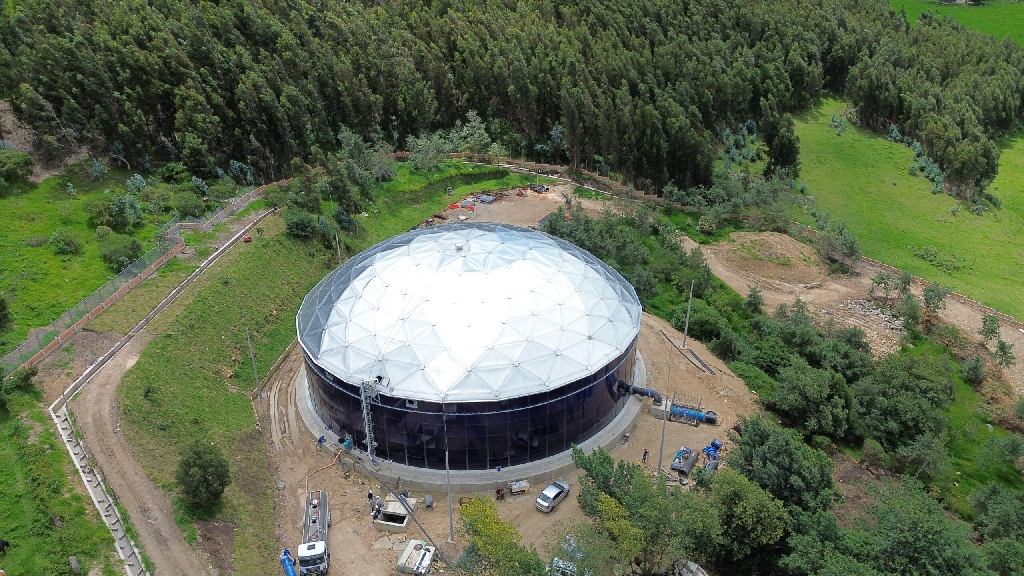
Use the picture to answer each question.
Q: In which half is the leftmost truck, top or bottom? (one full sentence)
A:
The bottom half of the photo is where the leftmost truck is.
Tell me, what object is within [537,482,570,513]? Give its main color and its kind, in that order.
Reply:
gray car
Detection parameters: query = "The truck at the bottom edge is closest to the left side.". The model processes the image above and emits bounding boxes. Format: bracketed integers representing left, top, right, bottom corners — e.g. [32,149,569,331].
[298,497,334,575]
